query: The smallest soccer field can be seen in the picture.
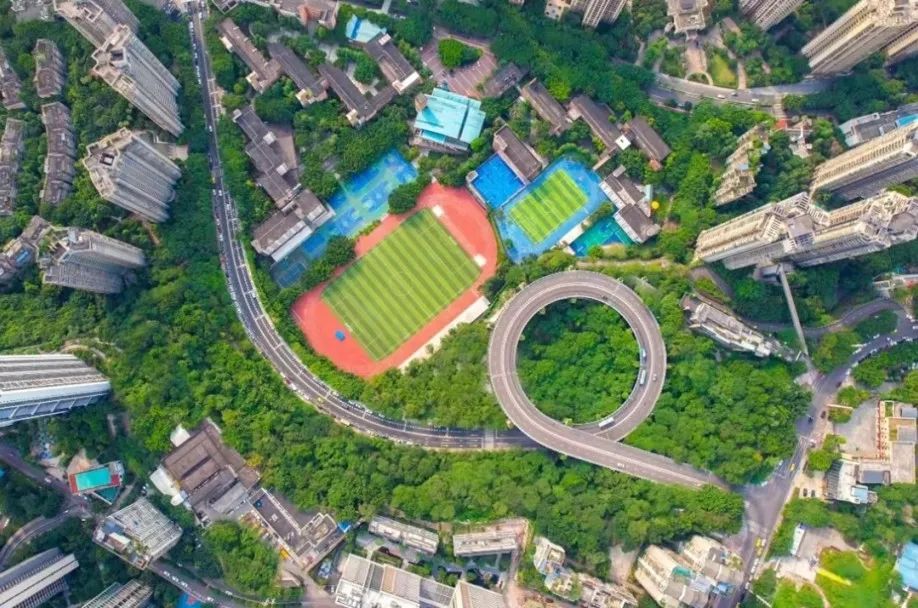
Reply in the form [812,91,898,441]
[507,168,588,245]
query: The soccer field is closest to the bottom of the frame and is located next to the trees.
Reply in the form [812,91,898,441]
[321,208,481,360]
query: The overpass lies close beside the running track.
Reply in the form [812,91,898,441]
[488,271,759,511]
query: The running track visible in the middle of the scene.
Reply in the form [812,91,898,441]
[292,181,497,377]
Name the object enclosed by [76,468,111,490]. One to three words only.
swimming pool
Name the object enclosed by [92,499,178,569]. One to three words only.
building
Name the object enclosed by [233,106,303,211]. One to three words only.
building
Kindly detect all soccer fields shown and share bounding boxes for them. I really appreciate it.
[321,208,481,360]
[507,168,588,245]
